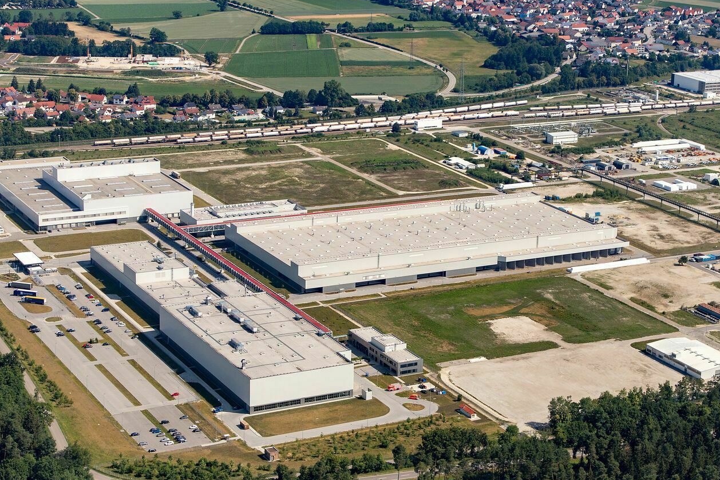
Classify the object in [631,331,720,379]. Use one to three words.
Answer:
building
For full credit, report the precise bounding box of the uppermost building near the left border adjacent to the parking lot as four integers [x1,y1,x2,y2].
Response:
[0,158,192,231]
